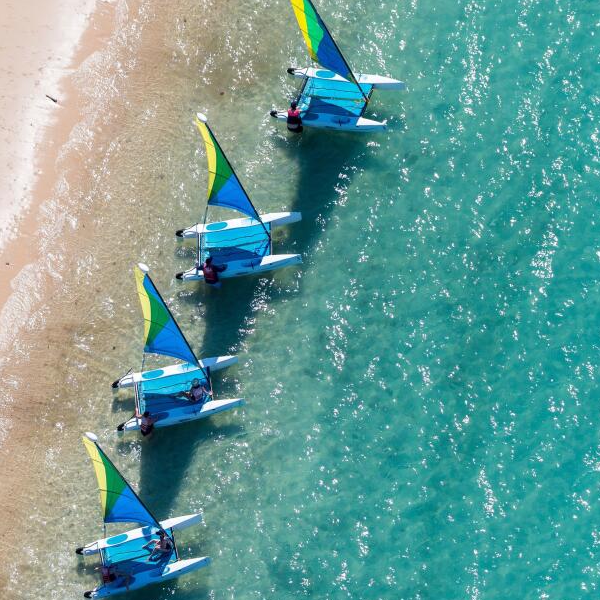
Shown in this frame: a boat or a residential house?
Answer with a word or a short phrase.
boat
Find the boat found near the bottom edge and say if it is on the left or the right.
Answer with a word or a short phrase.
left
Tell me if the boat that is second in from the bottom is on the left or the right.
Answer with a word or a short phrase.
left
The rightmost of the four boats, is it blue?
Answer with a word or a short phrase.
Yes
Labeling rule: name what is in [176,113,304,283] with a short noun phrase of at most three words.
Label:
boat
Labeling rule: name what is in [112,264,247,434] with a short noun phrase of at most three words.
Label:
boat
